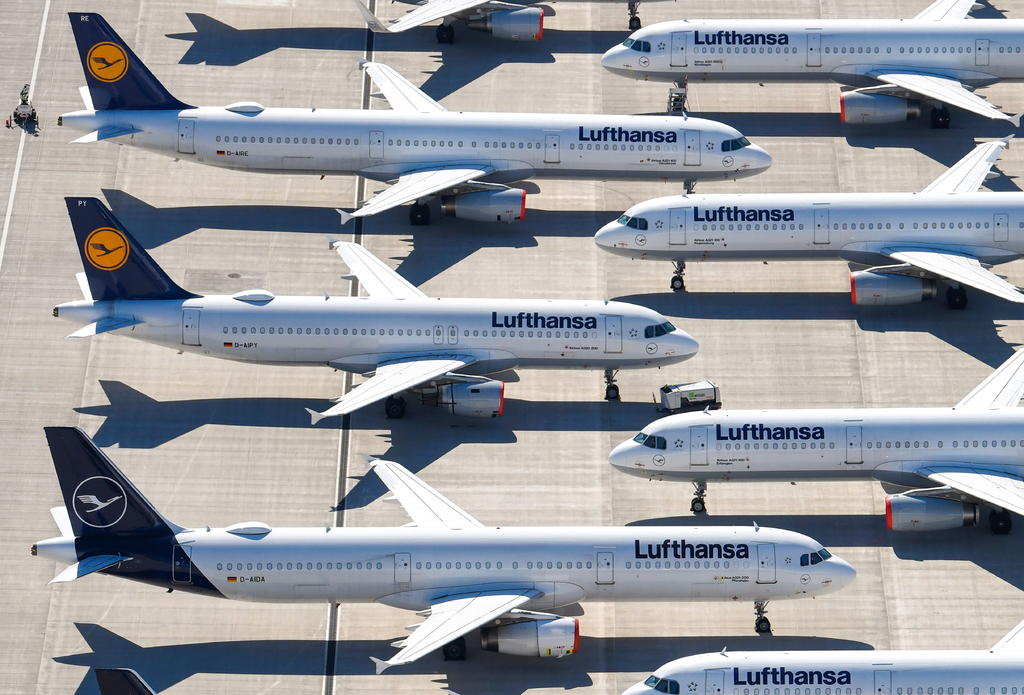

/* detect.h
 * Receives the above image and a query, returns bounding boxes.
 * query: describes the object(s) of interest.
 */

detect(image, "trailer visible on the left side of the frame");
[5,82,45,130]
